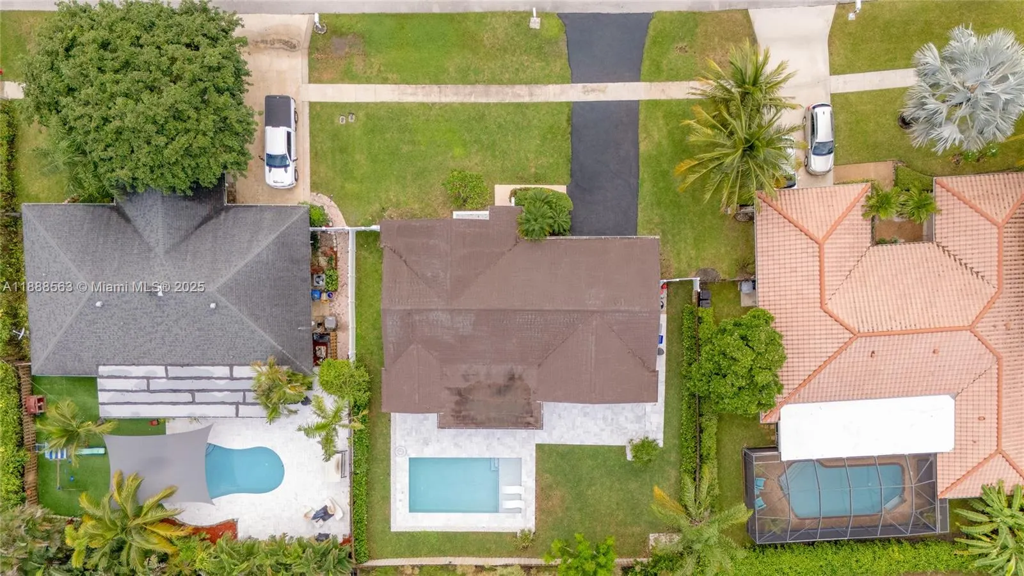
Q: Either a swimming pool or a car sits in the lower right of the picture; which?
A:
swimming pool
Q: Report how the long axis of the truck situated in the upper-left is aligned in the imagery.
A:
from top to bottom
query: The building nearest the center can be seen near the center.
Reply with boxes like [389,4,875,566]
[381,196,661,430]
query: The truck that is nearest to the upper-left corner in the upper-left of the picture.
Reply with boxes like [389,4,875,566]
[256,95,301,190]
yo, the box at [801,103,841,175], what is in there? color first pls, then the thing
white car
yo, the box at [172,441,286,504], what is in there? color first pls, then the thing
blue swimming pool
